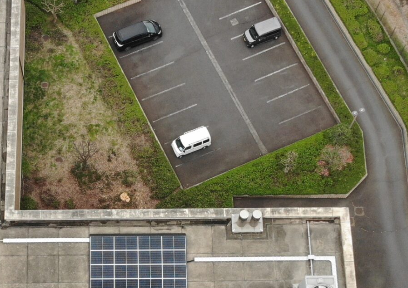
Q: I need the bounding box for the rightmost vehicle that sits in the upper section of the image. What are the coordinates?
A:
[243,16,283,49]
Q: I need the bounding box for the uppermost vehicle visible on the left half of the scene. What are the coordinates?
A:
[113,22,164,54]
